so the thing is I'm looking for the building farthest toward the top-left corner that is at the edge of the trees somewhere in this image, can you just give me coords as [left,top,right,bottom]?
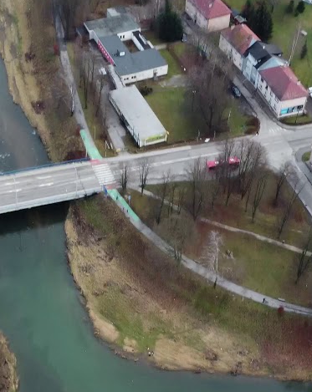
[77,7,168,85]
